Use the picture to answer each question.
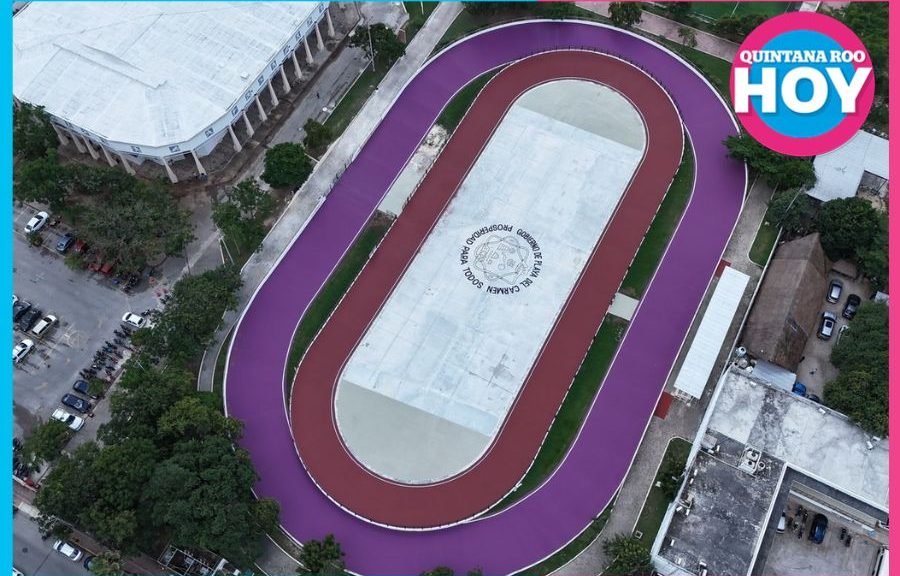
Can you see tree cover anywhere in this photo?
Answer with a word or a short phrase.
Yes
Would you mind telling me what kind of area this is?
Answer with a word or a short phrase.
sports ground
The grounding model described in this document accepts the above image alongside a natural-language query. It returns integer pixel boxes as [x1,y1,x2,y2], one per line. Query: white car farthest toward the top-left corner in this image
[23,212,51,234]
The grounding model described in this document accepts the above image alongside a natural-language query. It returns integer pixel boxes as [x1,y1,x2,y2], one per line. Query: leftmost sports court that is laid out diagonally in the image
[333,78,646,484]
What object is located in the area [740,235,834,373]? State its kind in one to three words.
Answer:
building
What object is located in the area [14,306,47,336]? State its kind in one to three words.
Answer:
vehicle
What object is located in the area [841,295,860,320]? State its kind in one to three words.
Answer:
car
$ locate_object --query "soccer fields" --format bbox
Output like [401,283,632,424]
[691,0,797,38]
